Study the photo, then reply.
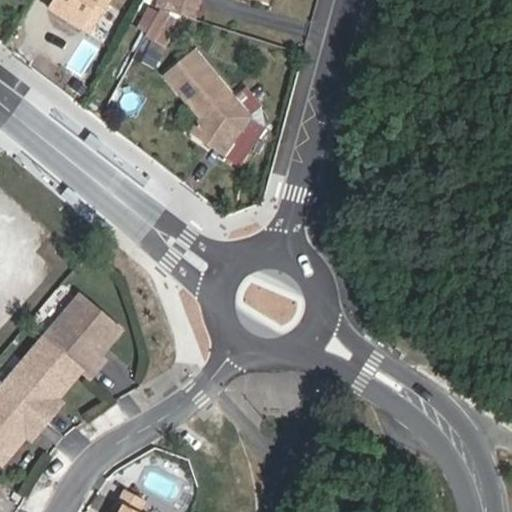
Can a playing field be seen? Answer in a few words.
No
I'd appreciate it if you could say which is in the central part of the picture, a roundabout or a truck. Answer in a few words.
roundabout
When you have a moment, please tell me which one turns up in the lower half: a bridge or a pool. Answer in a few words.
pool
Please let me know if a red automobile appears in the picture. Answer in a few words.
No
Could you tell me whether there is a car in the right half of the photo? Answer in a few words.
Yes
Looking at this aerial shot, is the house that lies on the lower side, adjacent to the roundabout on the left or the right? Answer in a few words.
left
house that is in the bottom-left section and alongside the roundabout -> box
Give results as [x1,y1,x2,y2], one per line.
[0,294,124,472]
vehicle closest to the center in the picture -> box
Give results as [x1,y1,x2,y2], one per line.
[300,254,312,278]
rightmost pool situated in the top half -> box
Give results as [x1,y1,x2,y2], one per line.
[119,86,147,118]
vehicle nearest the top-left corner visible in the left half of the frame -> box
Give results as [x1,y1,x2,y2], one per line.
[44,32,66,49]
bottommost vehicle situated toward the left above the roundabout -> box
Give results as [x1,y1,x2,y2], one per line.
[192,161,208,182]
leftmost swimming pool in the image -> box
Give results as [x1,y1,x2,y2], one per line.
[66,38,100,77]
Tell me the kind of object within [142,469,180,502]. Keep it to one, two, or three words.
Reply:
swimming pool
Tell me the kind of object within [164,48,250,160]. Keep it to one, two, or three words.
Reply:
house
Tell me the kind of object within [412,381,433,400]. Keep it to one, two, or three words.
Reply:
car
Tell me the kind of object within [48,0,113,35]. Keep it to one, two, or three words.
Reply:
house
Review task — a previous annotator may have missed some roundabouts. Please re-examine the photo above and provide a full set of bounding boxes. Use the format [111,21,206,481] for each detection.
[196,228,340,374]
